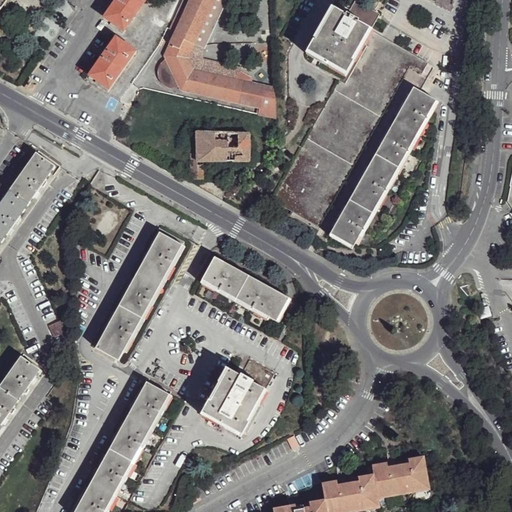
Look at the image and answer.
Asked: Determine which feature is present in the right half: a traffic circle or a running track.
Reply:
traffic circle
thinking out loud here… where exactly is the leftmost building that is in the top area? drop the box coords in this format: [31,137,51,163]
[0,152,60,250]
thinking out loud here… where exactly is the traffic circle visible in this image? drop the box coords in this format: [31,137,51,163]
[350,272,447,371]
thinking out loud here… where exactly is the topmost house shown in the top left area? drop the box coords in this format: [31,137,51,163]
[102,0,146,32]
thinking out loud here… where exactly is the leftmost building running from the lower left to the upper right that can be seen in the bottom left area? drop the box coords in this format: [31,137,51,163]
[0,355,44,427]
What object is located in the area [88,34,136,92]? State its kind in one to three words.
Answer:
house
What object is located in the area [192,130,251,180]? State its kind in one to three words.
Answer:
house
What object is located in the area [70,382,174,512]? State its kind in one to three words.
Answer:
building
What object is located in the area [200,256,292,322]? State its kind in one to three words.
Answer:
building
